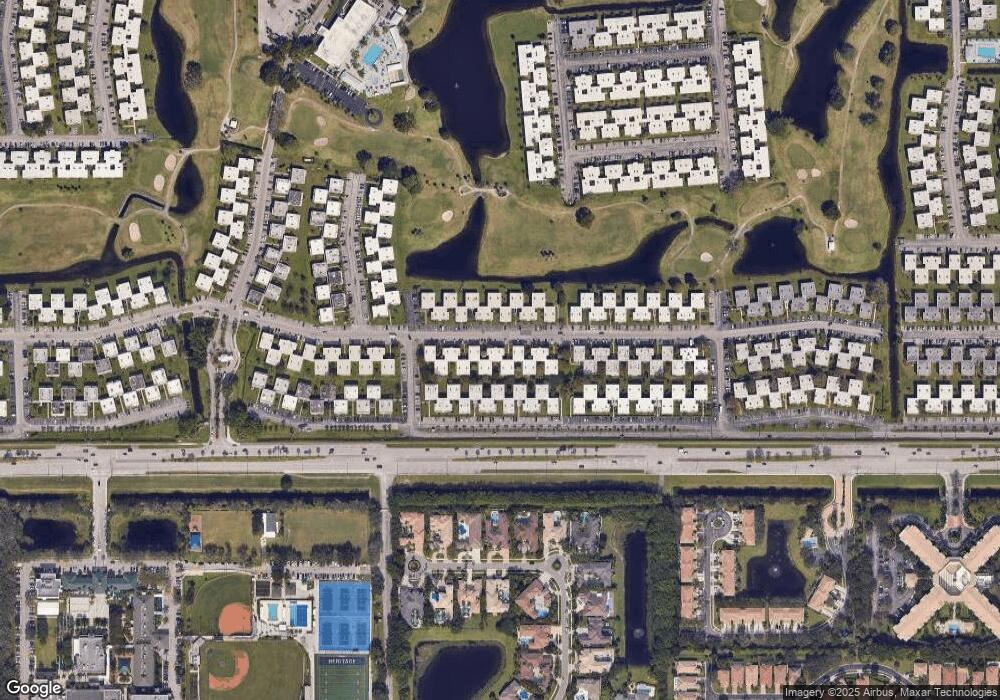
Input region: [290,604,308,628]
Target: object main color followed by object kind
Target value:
blue swimming pool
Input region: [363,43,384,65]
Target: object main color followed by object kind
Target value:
blue swimming pool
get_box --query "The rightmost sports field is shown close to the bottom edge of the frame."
[315,654,369,700]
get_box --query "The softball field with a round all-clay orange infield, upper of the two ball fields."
[184,573,253,637]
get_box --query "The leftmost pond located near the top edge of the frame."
[152,0,197,148]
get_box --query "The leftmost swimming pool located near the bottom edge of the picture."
[115,655,132,683]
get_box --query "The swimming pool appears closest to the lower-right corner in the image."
[937,620,975,636]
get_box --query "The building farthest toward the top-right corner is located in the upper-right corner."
[968,0,998,30]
